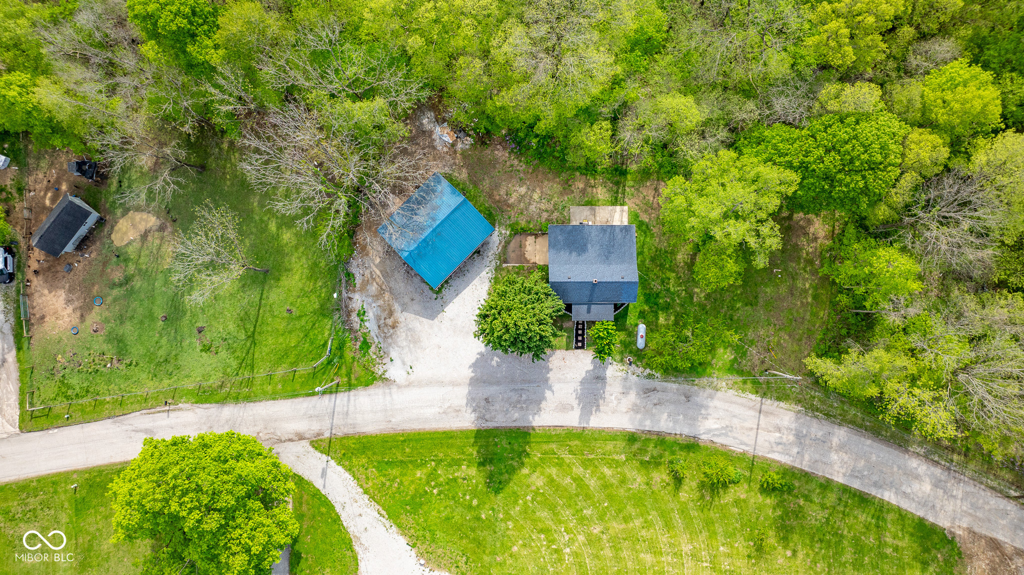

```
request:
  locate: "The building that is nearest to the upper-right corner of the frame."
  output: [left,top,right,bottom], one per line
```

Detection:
[548,224,641,321]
